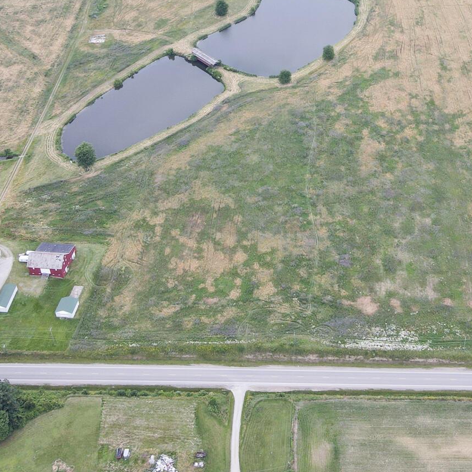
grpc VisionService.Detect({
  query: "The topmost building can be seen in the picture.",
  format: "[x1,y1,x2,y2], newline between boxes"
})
[27,244,76,283]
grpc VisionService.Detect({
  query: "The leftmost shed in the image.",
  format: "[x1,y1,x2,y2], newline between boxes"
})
[0,280,21,312]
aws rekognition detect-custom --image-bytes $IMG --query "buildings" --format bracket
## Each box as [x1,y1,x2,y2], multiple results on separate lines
[27,244,76,283]
[0,280,21,312]
[55,295,81,317]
